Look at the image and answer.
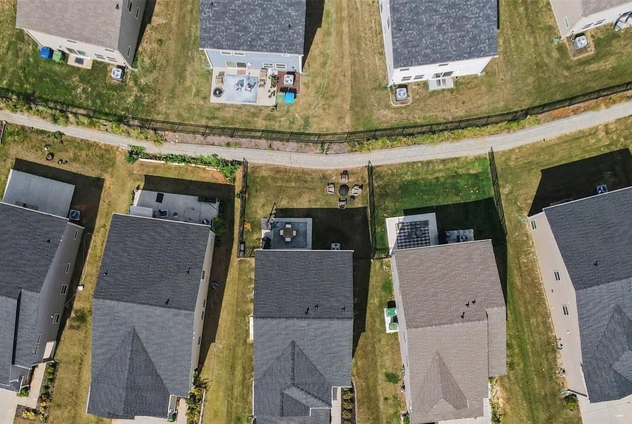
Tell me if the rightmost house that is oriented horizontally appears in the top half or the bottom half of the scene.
top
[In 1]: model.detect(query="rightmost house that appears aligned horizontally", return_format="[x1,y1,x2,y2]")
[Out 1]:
[544,0,632,39]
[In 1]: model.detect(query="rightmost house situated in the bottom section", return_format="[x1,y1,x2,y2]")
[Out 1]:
[527,186,632,403]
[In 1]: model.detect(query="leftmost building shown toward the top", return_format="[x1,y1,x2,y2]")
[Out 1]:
[17,0,145,69]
